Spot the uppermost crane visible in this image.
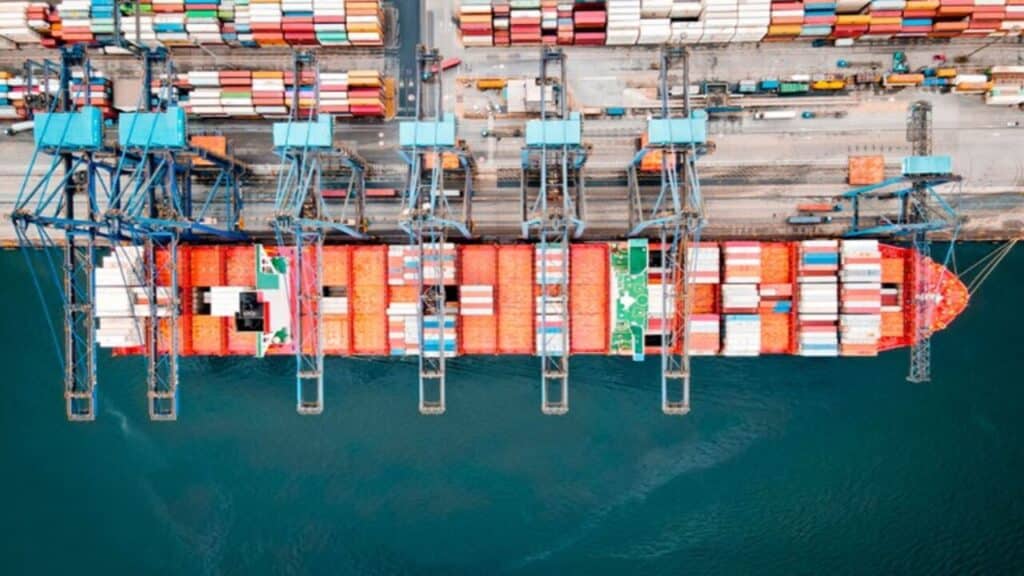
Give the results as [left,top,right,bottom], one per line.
[115,0,166,60]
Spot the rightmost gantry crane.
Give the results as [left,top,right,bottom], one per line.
[832,81,957,384]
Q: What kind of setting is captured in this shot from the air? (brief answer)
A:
port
